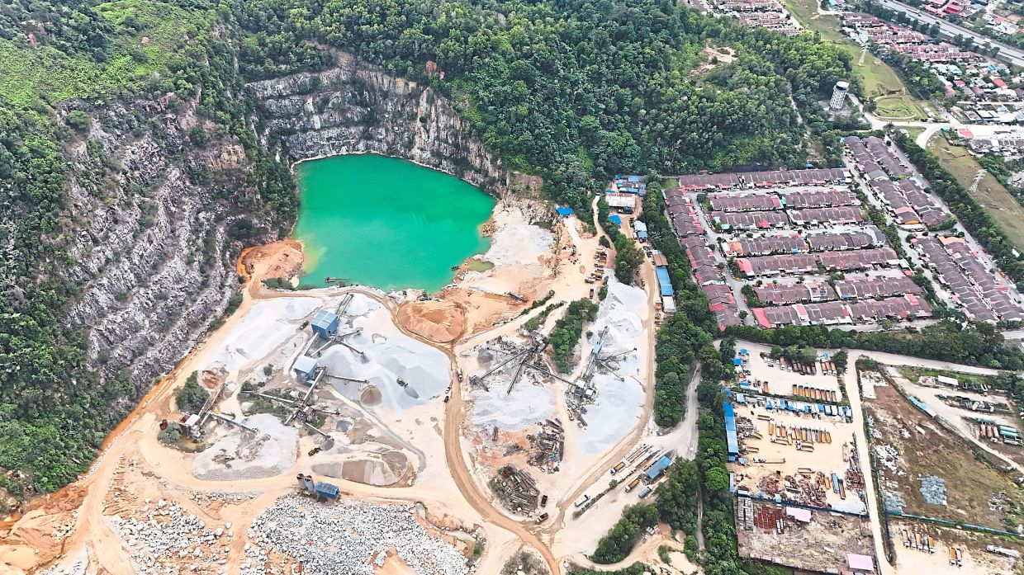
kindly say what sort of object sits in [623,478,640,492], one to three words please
vehicle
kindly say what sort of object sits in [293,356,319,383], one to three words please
house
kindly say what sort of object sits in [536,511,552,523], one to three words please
vehicle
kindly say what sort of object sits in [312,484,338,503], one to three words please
building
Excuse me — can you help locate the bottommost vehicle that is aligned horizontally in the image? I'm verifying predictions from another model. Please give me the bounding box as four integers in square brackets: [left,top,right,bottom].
[985,545,1017,557]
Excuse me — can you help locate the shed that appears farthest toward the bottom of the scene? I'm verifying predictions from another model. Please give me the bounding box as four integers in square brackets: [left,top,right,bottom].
[843,554,874,573]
